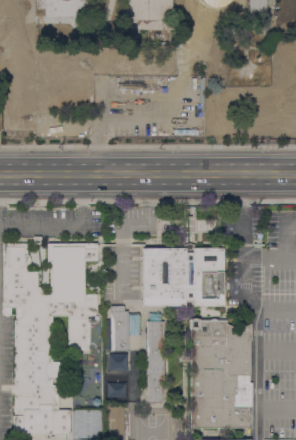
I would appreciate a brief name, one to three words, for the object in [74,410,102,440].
basketball court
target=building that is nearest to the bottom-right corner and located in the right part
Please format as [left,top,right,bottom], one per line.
[188,319,252,426]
